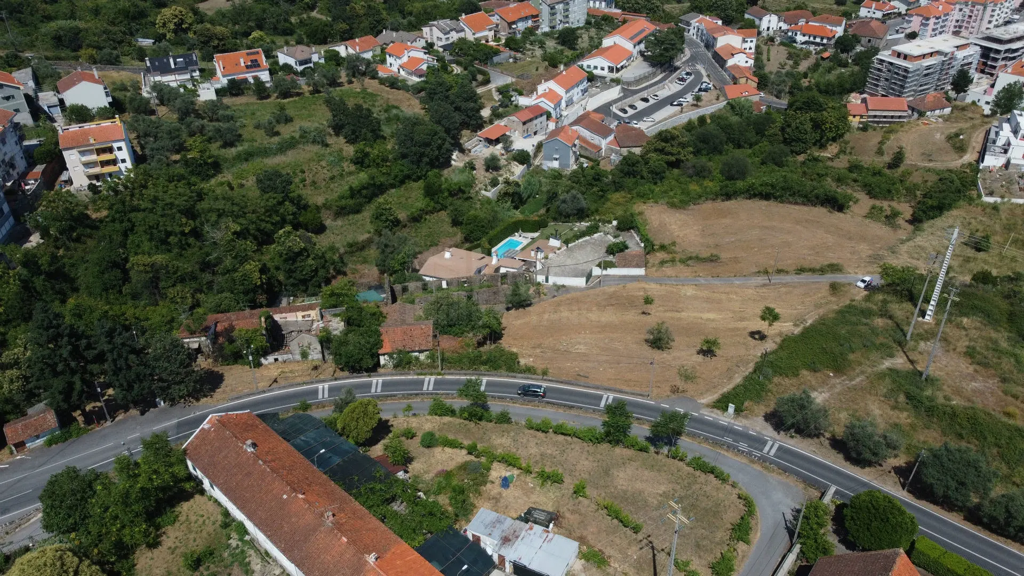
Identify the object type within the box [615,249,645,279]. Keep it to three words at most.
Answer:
building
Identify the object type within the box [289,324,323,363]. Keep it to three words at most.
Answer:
house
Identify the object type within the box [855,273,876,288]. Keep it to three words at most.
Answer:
car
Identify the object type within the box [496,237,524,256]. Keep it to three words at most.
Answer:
swimming pool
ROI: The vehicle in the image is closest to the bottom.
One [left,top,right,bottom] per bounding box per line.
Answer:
[517,384,547,400]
